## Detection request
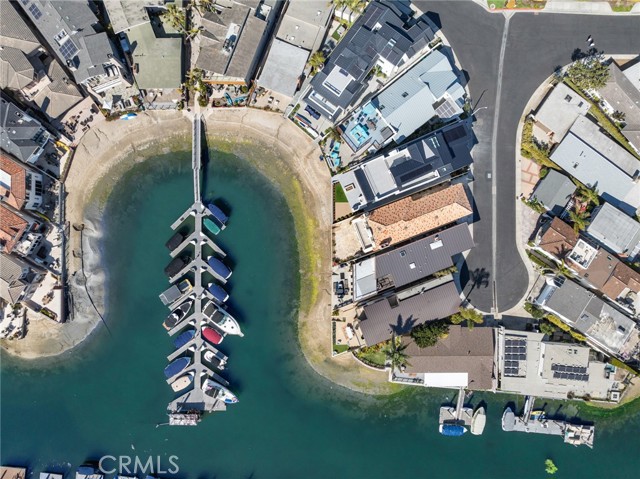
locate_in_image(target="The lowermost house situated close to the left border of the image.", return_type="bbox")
[0,243,52,303]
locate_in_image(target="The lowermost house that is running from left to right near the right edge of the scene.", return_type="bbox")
[494,327,613,396]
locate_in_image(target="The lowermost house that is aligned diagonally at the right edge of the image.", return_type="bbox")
[532,273,636,362]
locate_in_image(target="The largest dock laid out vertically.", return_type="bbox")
[169,204,226,410]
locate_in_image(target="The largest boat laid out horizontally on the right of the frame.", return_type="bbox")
[439,424,468,438]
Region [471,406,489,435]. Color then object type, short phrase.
white boat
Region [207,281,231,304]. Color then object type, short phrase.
blue boat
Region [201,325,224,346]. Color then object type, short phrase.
red boat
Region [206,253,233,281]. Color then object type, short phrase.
blue boat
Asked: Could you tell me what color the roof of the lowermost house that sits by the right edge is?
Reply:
white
